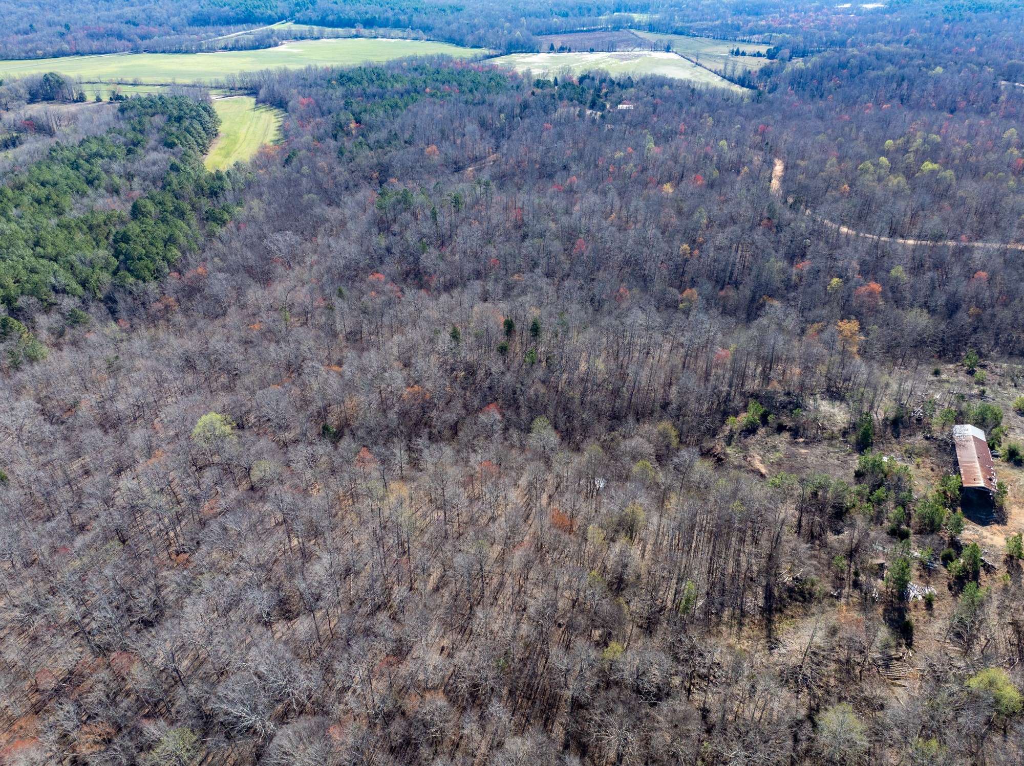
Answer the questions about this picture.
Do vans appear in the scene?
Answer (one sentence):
No, the photo shows no van.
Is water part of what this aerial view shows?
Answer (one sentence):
No, no water is visible.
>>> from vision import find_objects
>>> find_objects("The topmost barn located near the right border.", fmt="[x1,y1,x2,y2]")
[946,423,1002,509]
